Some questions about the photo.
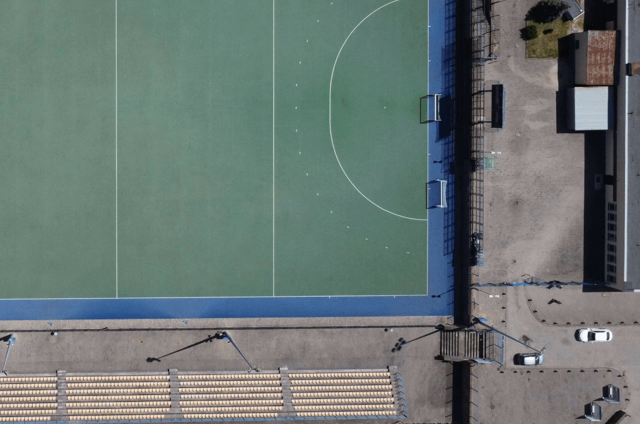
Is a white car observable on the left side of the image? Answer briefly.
No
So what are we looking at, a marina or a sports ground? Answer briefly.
sports ground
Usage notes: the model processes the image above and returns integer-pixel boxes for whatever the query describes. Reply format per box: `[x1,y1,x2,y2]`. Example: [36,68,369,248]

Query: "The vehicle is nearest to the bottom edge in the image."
[516,353,545,369]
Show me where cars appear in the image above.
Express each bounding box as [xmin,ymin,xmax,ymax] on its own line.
[581,328,615,345]
[516,353,545,369]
